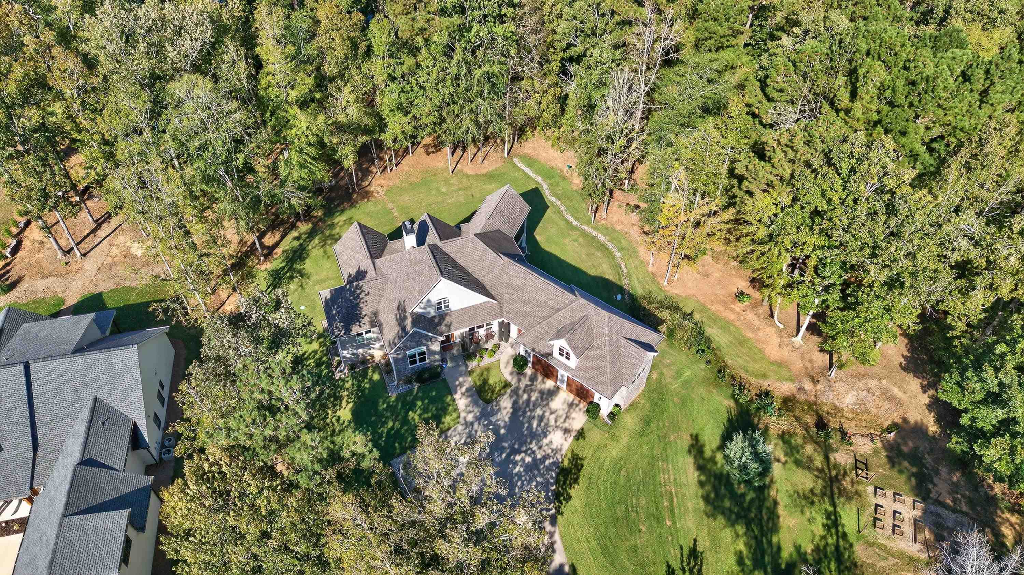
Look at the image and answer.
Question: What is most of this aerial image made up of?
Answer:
trees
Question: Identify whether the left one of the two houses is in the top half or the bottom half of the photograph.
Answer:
bottom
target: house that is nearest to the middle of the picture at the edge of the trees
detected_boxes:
[318,183,664,415]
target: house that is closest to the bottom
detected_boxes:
[0,301,175,575]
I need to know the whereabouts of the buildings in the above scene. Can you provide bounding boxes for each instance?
[318,183,664,415]
[0,301,175,575]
